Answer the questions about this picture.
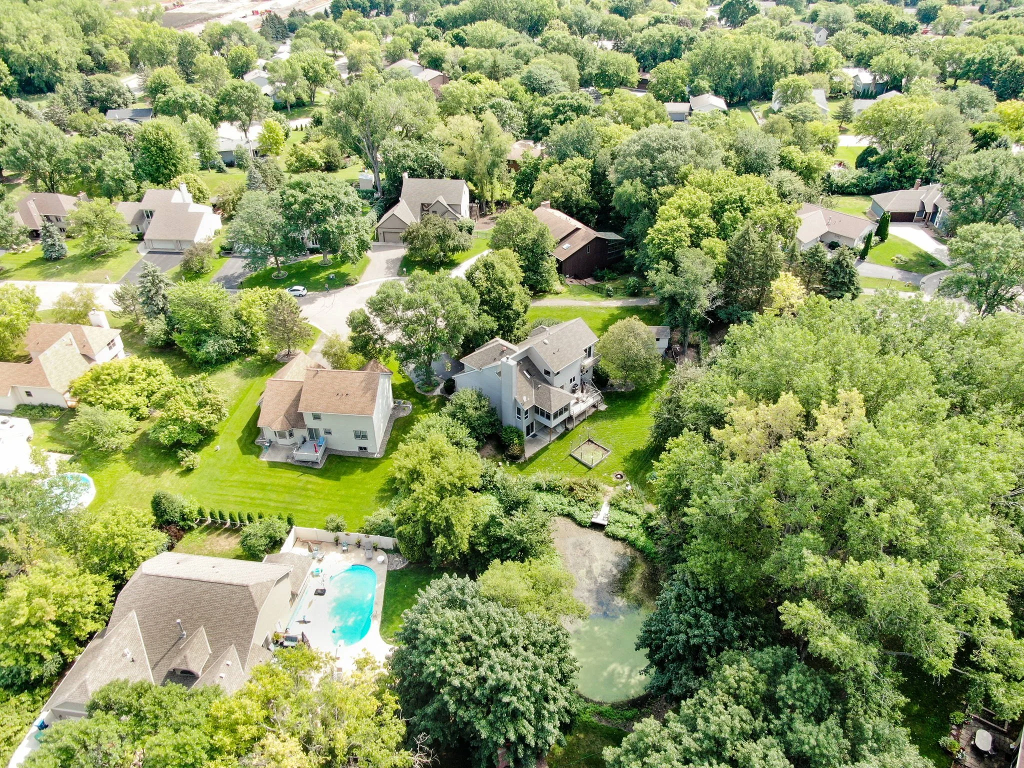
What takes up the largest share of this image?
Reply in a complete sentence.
The largest share of the image is taken up by trees.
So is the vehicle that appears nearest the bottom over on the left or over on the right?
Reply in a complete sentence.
You can find the vehicle that appears nearest the bottom on the left side of the picture.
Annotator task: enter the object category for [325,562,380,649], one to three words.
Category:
swimming pool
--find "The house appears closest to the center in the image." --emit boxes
[454,313,617,444]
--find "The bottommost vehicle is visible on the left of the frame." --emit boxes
[0,416,36,448]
